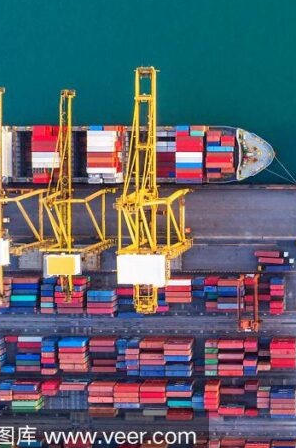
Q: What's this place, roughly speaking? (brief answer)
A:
port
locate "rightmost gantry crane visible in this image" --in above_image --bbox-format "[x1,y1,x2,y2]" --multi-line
[239,273,264,337]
